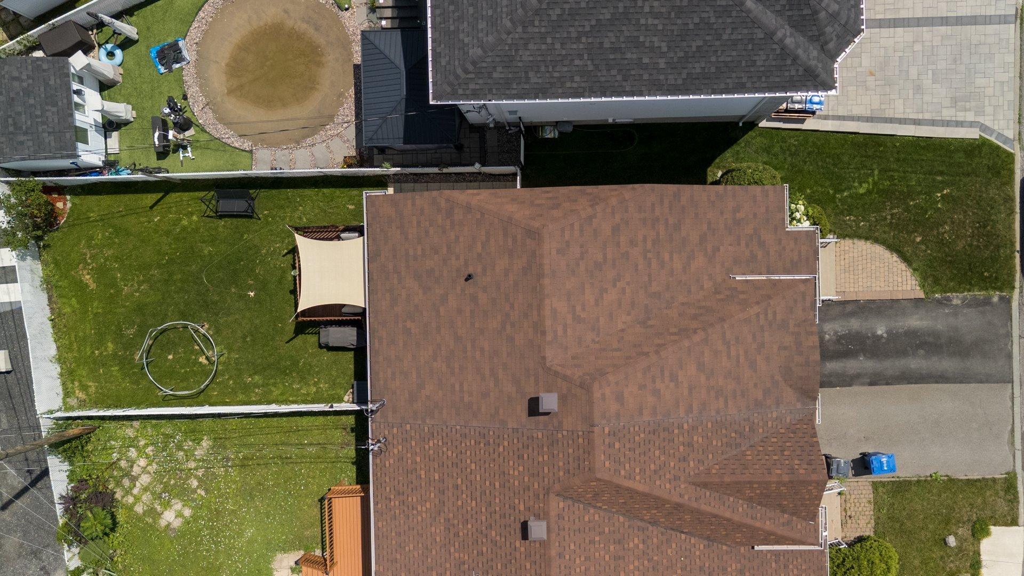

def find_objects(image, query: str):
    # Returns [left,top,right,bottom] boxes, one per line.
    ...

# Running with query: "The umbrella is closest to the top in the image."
[86,10,141,44]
